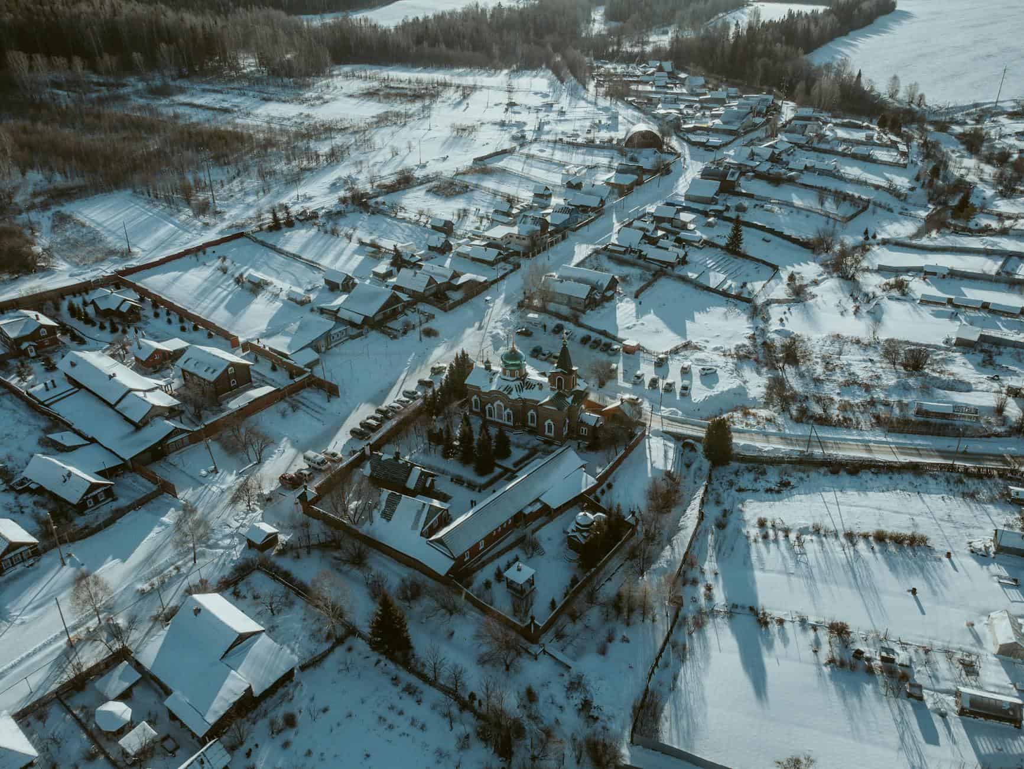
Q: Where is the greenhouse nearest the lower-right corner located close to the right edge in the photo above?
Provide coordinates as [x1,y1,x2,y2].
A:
[950,681,1024,737]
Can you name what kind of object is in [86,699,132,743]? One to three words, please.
gazebo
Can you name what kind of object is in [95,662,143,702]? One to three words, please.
building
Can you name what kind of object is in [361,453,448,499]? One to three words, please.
house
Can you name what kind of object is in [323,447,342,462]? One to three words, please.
car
